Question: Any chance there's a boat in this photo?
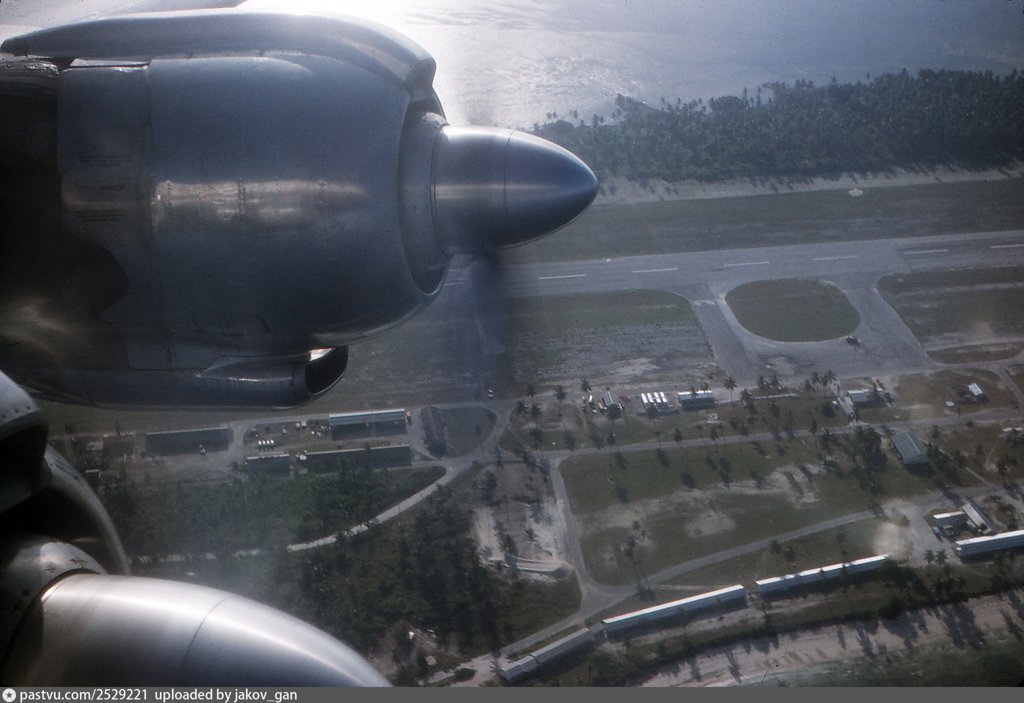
No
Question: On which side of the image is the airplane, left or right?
left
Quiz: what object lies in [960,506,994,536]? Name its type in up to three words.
shed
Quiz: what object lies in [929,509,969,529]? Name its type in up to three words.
building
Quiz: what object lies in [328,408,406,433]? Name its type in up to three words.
hangar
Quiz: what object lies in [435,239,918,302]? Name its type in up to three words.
runway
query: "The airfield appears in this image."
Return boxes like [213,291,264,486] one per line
[435,230,1024,386]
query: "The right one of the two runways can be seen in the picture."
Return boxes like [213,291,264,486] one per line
[890,230,1024,270]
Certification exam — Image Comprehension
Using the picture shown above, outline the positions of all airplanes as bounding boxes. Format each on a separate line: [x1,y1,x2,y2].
[0,0,599,703]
